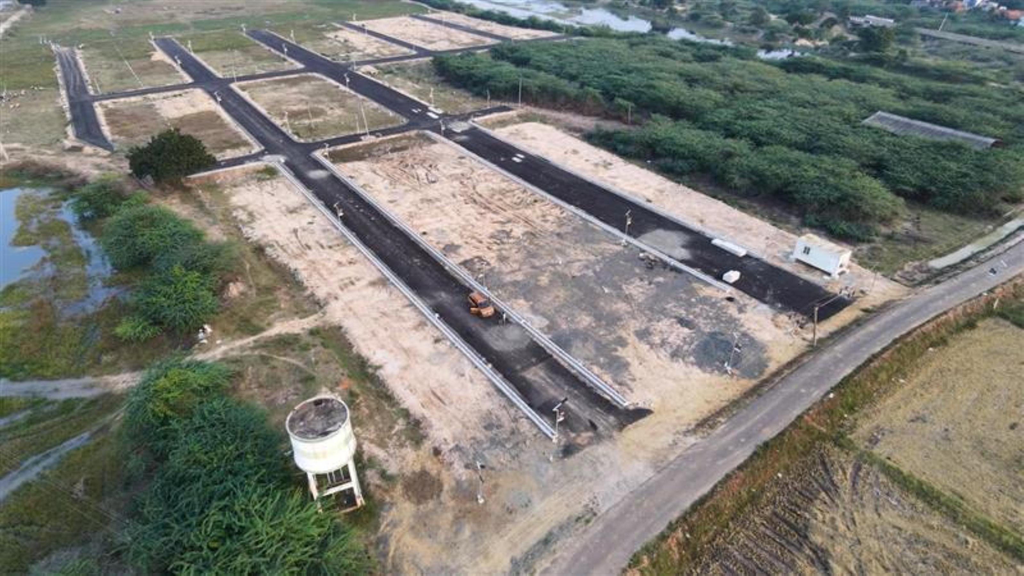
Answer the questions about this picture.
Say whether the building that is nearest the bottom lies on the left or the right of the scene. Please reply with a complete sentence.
The building that is nearest the bottom sits on the right side.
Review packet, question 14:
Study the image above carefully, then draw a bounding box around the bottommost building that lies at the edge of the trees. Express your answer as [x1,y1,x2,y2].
[795,232,855,279]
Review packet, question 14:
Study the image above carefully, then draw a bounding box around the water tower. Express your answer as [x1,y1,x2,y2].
[289,397,360,512]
